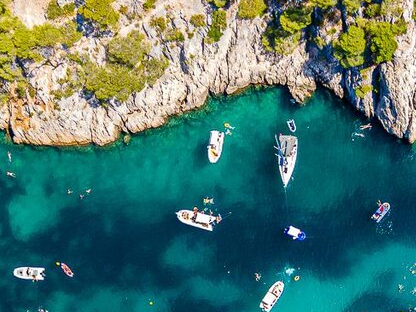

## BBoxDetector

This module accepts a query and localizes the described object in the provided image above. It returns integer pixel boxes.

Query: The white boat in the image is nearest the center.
[208,129,224,163]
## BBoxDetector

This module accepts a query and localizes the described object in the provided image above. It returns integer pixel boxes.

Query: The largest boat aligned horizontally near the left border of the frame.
[15,267,47,281]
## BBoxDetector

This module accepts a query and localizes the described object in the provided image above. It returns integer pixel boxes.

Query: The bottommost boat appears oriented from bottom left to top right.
[257,283,282,312]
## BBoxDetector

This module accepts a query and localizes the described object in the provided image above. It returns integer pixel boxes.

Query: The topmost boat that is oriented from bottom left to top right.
[369,202,389,224]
